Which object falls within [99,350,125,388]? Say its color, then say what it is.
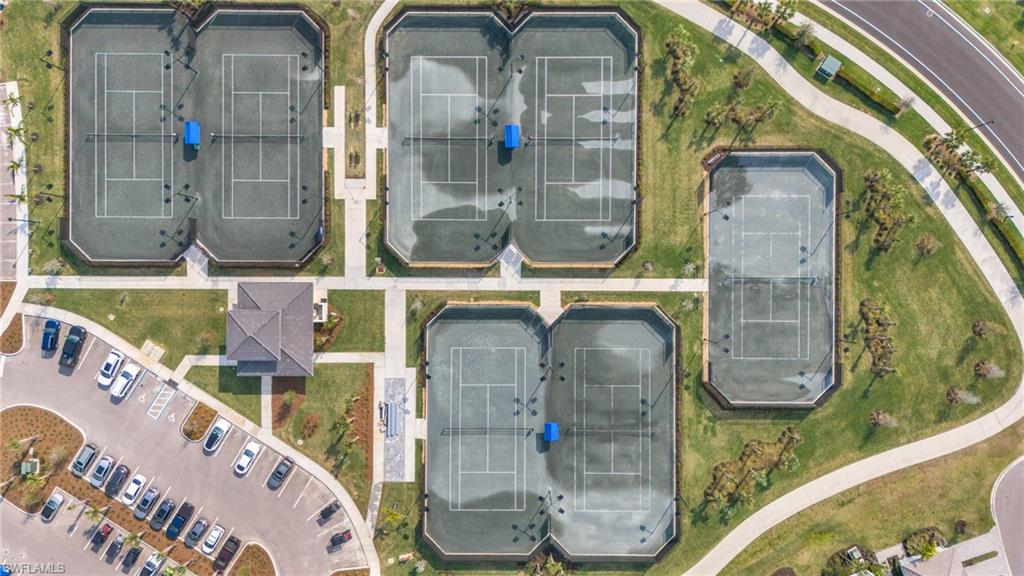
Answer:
white car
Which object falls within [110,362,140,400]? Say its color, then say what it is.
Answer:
white car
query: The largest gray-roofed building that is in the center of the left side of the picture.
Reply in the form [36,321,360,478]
[226,282,314,377]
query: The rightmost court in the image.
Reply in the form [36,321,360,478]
[709,153,836,404]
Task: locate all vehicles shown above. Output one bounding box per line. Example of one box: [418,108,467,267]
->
[150,497,177,531]
[110,362,140,400]
[122,473,147,506]
[140,551,167,576]
[89,524,112,547]
[58,325,86,369]
[91,456,116,487]
[268,457,294,491]
[328,528,351,547]
[235,441,259,475]
[186,517,211,549]
[120,547,143,571]
[42,319,61,352]
[134,486,162,521]
[166,500,197,541]
[99,350,125,388]
[39,490,66,524]
[103,536,125,559]
[318,501,340,521]
[202,523,227,555]
[72,445,98,477]
[213,534,244,573]
[202,418,230,453]
[105,465,131,498]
